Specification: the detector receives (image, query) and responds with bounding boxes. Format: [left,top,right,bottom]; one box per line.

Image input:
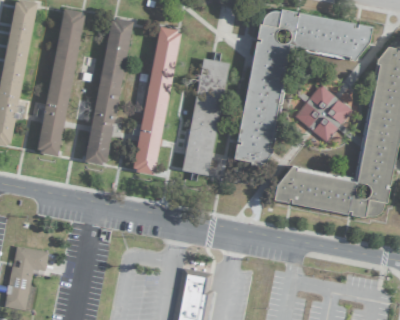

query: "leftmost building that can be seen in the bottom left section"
[0,246,54,310]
